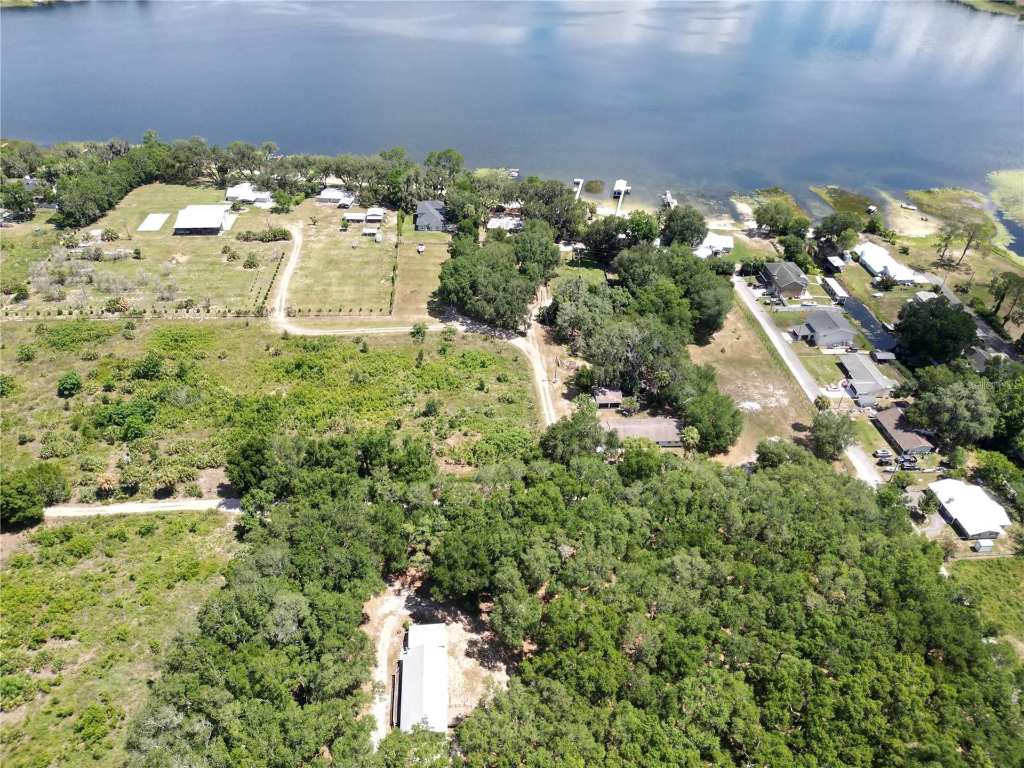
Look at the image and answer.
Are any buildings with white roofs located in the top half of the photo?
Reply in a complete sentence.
Yes, a building with a white roof is visible in the top half of the photo.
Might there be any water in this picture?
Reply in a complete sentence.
Yes, the picture does contain water.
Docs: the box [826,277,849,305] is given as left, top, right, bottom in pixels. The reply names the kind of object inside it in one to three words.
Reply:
building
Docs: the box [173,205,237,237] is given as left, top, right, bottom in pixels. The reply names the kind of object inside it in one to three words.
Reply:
barn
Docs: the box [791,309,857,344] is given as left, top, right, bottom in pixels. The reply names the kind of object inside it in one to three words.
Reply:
house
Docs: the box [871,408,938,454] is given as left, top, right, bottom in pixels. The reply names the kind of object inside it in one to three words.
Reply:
house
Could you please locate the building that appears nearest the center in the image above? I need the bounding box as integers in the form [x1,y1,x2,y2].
[594,389,622,409]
